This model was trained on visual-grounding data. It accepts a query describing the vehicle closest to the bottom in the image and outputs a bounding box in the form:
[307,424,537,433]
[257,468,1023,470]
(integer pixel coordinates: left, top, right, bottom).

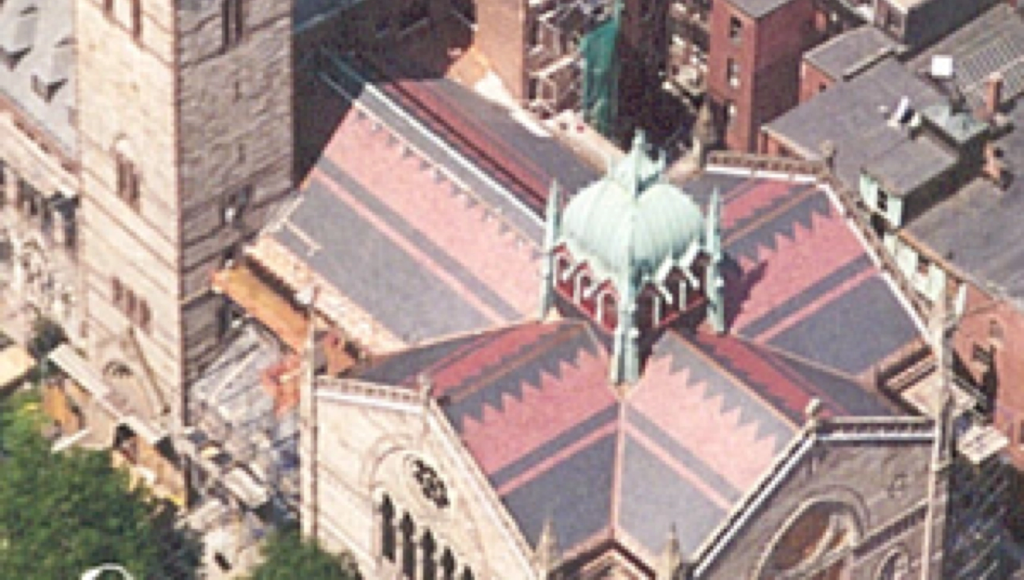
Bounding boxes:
[189,533,235,572]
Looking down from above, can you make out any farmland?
No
